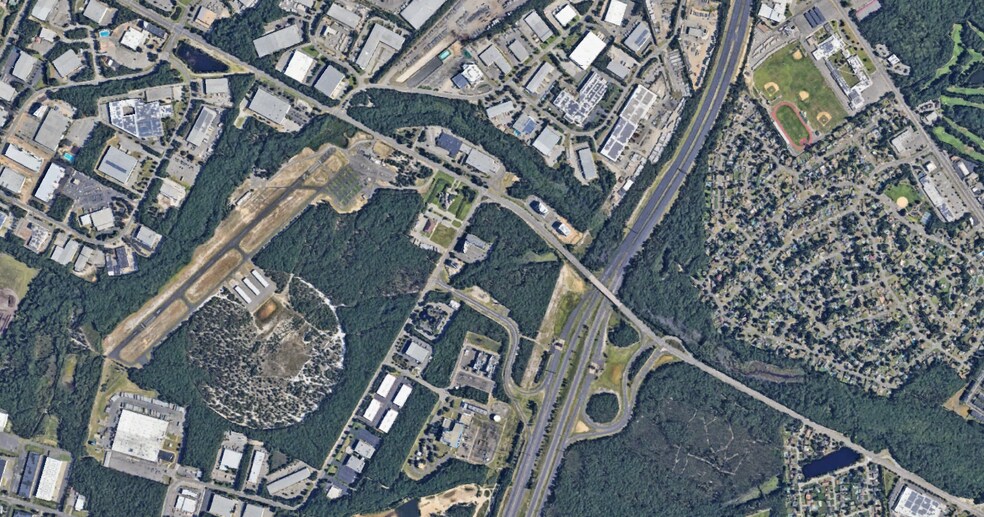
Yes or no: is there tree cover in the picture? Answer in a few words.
Yes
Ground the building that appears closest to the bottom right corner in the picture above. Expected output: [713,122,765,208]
[890,485,948,517]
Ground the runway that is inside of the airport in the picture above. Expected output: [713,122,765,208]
[108,145,335,359]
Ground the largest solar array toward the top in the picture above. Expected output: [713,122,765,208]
[438,134,459,155]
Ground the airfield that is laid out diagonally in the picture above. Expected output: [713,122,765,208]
[108,145,395,365]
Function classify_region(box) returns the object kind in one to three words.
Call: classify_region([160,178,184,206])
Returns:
building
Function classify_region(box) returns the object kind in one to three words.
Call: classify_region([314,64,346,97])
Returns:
building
